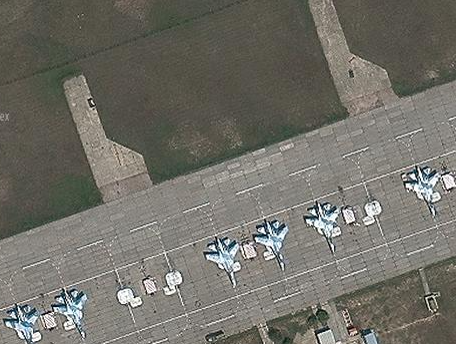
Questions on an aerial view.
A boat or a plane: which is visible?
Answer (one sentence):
I can see a plane in this picture.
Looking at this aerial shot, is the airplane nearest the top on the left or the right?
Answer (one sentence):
The airplane nearest the top sits on the right side.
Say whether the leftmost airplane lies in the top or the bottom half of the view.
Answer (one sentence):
The leftmost airplane sits in the bottom half of the picture.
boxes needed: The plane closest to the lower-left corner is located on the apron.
[3,304,40,344]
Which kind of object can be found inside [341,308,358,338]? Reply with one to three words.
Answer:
vehicle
